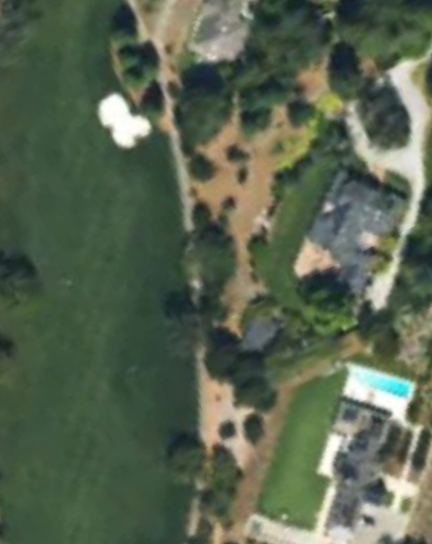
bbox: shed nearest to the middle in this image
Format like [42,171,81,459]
[242,318,279,352]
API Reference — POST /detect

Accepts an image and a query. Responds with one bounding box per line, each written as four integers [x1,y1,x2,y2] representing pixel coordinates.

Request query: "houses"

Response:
[301,170,409,299]
[197,0,247,62]
[326,392,396,541]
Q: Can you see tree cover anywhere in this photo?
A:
Yes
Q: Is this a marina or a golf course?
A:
golf course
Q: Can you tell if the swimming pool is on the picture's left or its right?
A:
right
